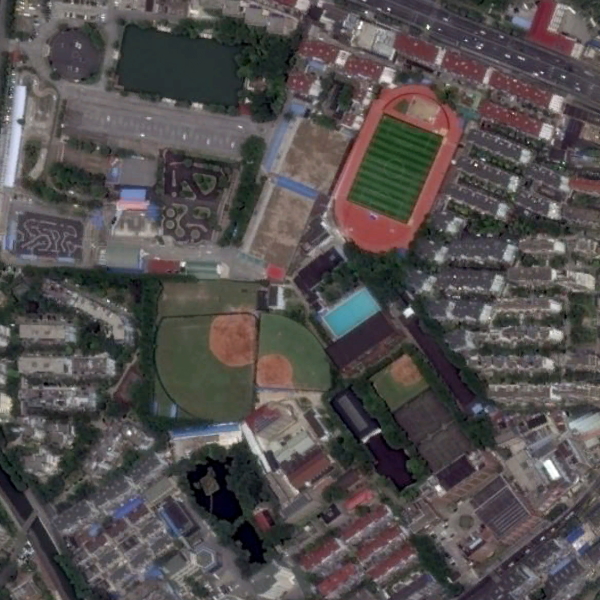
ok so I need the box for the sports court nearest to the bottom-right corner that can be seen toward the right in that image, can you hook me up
[420,421,472,473]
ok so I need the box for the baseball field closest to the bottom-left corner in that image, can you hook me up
[154,313,257,421]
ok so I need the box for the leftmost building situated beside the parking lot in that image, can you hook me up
[4,86,29,188]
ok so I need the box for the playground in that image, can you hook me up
[17,211,83,264]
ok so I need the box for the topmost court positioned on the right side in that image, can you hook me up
[393,380,455,441]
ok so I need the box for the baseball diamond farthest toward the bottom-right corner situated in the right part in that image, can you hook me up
[371,355,430,411]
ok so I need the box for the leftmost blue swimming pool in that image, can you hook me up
[316,282,388,343]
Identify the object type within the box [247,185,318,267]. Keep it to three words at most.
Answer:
sports field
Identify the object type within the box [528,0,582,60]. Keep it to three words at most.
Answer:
building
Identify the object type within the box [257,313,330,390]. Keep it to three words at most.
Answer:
baseball field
